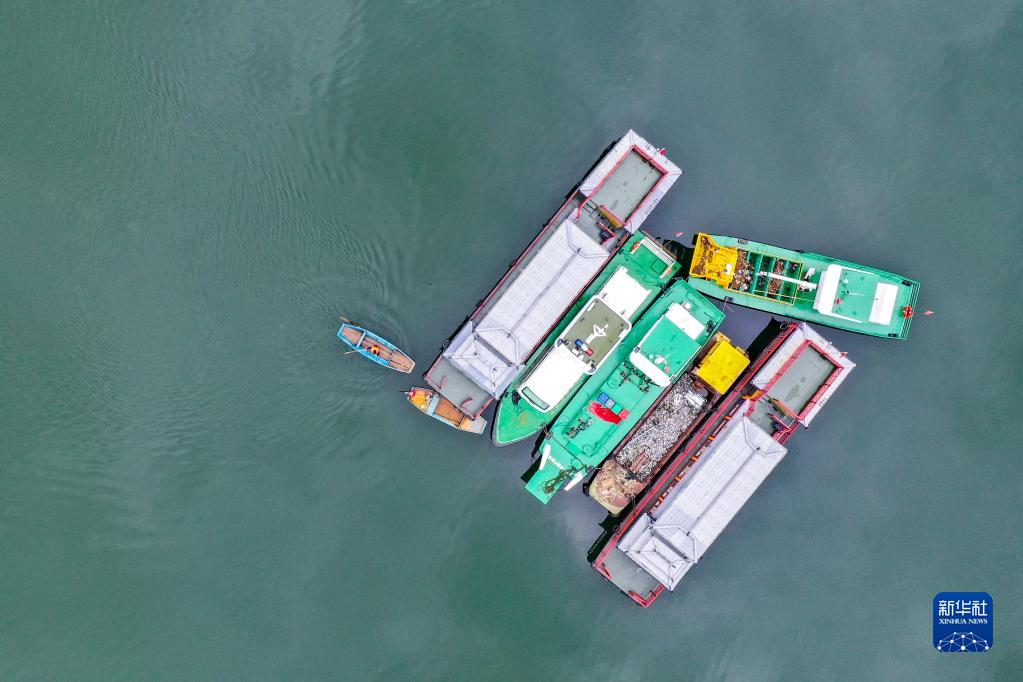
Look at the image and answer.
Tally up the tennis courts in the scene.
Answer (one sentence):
Not a single tennis court can be seen.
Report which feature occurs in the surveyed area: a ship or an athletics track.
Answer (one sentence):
Looking from above, you can make out a ship.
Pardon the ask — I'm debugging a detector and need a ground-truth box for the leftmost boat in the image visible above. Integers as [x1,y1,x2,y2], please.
[337,324,416,373]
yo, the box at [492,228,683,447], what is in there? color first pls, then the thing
white boat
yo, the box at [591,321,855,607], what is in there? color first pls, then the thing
white ship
